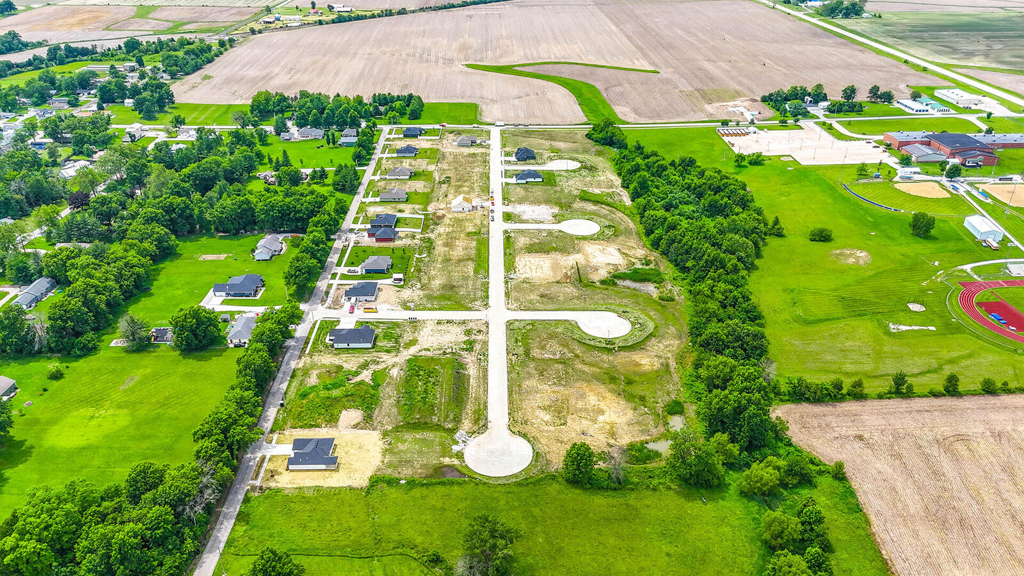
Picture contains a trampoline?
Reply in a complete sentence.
No, no trampoline is visible in the scene.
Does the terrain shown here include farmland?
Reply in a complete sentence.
Yes, the picture does contain farmland.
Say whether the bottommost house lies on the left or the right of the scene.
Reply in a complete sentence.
It is on the left.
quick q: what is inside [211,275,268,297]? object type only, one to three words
house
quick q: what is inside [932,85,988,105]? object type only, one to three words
building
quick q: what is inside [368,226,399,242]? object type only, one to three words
house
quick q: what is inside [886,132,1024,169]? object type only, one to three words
building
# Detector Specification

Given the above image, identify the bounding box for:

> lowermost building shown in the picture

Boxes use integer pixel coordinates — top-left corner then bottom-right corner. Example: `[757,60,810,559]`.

[285,435,341,471]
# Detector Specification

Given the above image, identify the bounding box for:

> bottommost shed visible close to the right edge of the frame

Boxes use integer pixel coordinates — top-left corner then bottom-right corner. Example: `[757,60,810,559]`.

[959,214,1005,241]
